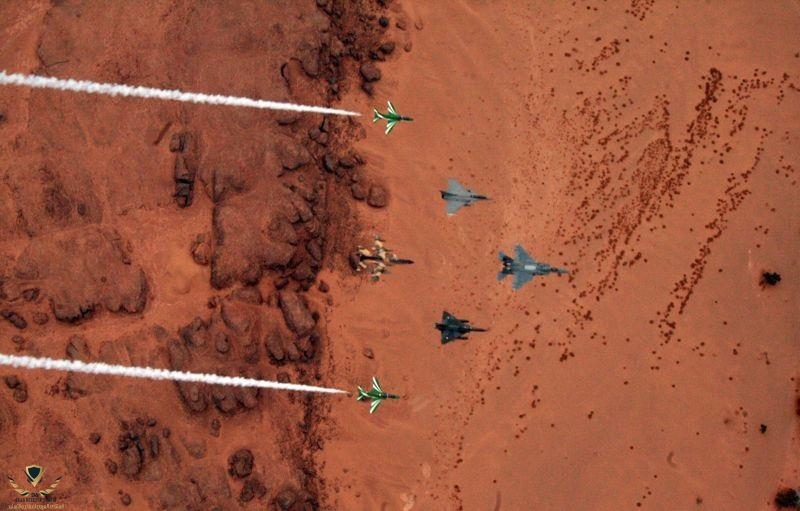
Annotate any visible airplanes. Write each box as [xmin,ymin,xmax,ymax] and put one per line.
[434,310,488,343]
[498,244,568,291]
[439,177,492,214]
[357,376,400,413]
[373,99,414,134]
[357,236,416,281]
